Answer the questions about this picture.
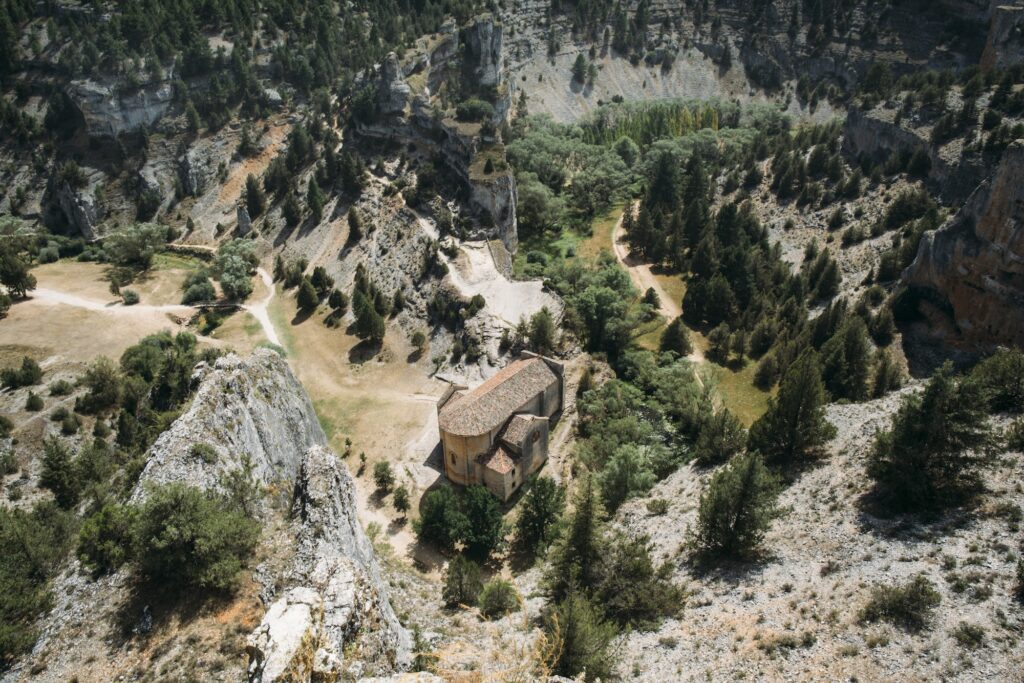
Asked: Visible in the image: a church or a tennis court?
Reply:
church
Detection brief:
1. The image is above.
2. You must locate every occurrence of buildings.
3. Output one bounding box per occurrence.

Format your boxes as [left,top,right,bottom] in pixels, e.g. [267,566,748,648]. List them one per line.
[435,346,567,501]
